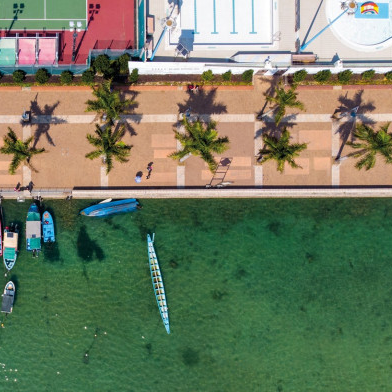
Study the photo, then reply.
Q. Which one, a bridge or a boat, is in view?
boat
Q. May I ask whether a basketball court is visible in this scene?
No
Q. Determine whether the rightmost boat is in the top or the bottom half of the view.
bottom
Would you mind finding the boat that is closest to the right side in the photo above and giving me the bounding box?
[148,233,168,333]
